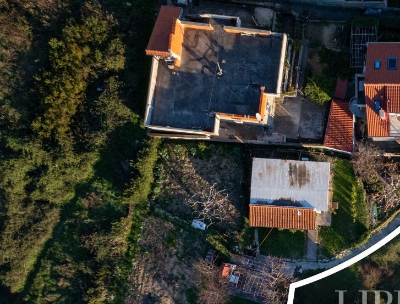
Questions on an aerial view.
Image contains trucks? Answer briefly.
No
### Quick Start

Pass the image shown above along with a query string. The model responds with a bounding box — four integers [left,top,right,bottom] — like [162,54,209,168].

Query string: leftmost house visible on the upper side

[144,5,296,142]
